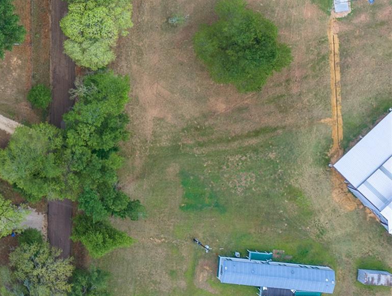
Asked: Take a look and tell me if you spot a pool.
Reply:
No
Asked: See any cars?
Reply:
No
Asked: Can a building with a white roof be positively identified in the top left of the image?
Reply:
No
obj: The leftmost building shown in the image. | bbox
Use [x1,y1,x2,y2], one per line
[215,255,336,293]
